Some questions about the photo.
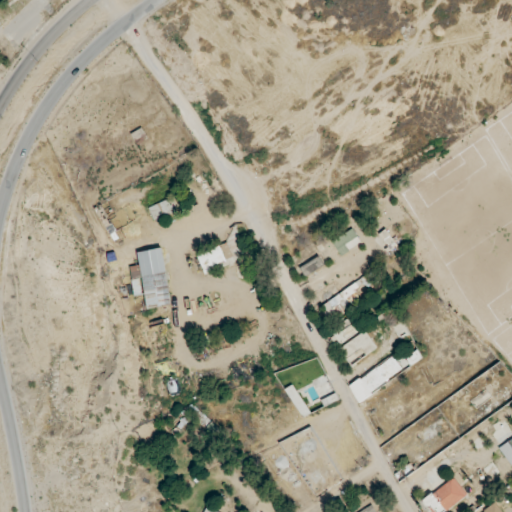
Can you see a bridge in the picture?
No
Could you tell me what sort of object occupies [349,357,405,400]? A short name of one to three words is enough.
building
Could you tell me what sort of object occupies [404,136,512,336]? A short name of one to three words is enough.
soccer field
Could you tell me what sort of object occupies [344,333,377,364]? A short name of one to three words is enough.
house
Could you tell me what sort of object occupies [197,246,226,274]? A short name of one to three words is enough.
house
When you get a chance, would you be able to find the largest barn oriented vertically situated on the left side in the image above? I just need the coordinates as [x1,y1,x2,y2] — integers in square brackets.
[137,247,170,310]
